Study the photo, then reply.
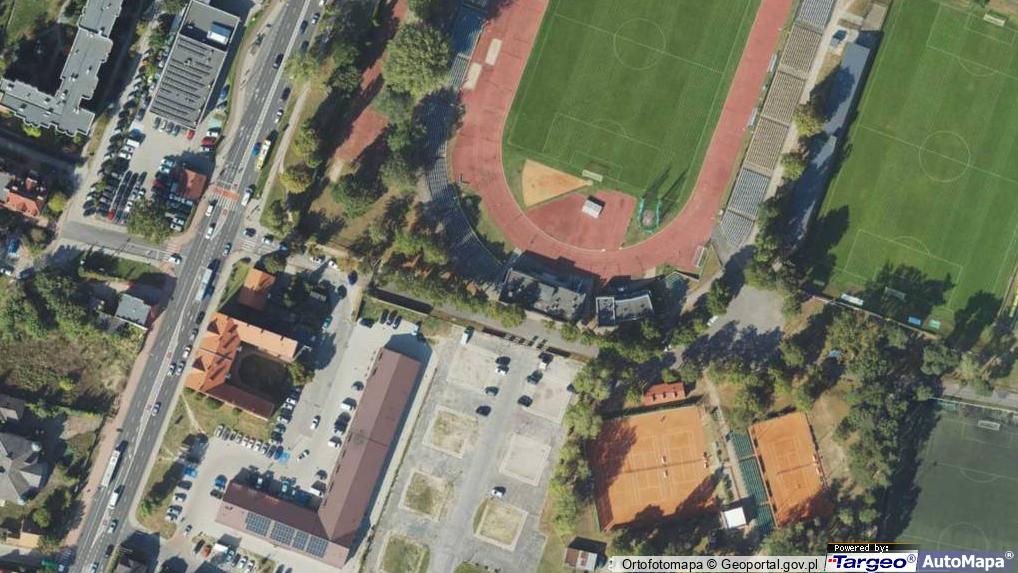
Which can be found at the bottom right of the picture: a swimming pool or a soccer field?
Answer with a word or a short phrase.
soccer field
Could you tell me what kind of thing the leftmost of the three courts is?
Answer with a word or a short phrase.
tennis court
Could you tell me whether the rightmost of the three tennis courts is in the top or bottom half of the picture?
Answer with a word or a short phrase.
bottom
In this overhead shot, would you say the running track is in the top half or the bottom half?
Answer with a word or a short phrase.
top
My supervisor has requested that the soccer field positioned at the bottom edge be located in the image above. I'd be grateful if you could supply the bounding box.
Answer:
[865,403,1018,573]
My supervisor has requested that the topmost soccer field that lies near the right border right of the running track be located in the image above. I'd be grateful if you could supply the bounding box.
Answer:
[806,0,1018,330]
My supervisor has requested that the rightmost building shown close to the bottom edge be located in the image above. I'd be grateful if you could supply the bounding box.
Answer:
[564,549,597,572]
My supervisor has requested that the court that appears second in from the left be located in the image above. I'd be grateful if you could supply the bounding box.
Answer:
[648,406,720,518]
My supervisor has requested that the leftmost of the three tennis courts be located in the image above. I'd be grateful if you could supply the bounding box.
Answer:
[593,415,667,531]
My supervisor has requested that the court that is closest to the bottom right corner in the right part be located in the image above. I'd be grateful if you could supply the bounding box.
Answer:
[749,412,834,527]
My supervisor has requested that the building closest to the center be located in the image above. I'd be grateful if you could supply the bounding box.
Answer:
[500,269,586,323]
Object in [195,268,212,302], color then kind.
white vehicle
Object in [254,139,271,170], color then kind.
white vehicle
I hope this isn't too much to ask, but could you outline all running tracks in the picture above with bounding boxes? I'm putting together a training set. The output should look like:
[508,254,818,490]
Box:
[451,0,792,284]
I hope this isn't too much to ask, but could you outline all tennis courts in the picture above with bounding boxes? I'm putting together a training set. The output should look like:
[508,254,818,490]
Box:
[749,412,834,527]
[593,415,667,531]
[648,406,720,518]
